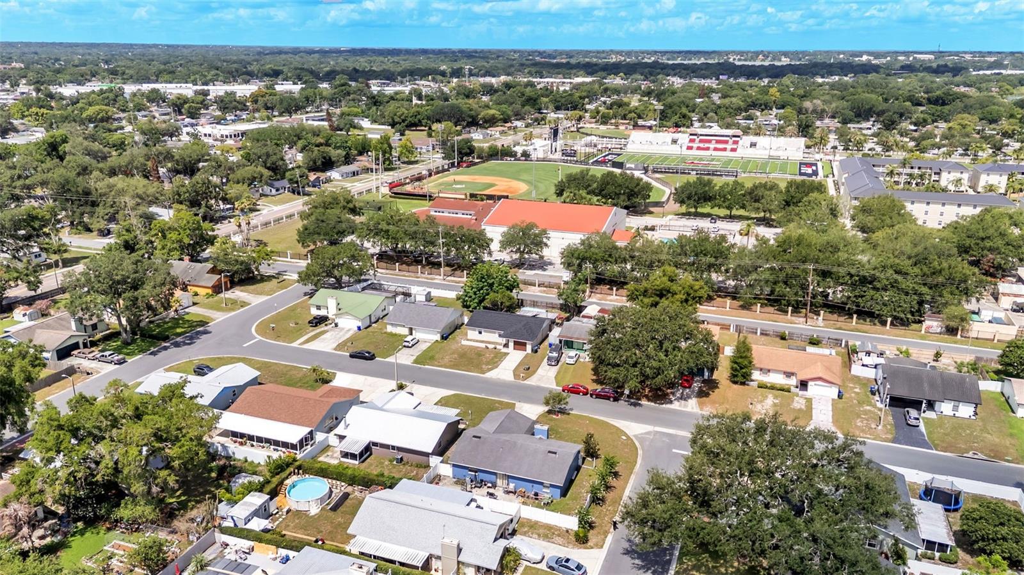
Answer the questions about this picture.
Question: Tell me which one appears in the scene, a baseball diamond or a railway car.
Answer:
baseball diamond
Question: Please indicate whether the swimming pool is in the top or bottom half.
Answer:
bottom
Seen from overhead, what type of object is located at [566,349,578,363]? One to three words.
vehicle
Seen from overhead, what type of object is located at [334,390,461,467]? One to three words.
house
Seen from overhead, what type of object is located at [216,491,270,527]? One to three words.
shed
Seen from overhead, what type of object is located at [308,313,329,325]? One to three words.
vehicle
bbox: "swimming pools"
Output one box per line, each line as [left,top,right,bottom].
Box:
[285,476,332,511]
